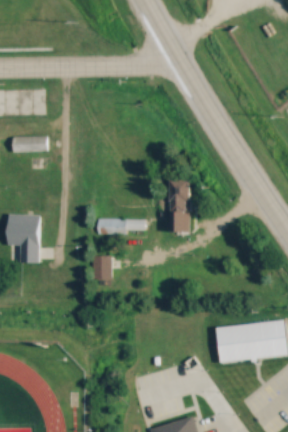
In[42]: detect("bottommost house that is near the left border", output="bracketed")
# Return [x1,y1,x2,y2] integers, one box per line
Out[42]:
[6,214,42,263]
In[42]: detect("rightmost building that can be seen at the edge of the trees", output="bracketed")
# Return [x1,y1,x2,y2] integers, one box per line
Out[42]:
[216,320,288,364]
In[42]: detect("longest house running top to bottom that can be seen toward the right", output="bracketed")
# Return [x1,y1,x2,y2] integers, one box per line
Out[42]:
[170,179,194,236]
